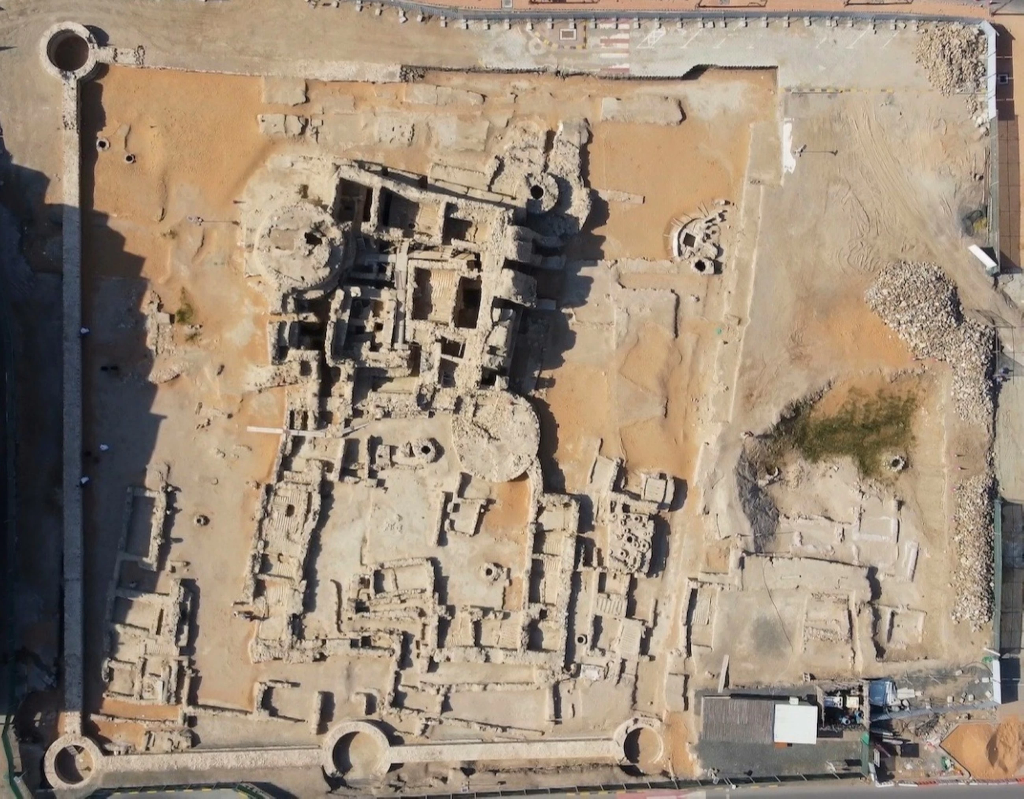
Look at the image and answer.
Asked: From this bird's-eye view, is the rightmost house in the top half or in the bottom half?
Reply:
bottom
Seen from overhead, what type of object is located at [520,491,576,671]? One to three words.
house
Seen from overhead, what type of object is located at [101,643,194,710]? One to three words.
house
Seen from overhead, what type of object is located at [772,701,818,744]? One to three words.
building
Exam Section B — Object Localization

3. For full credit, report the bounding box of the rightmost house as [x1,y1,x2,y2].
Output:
[875,605,928,649]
